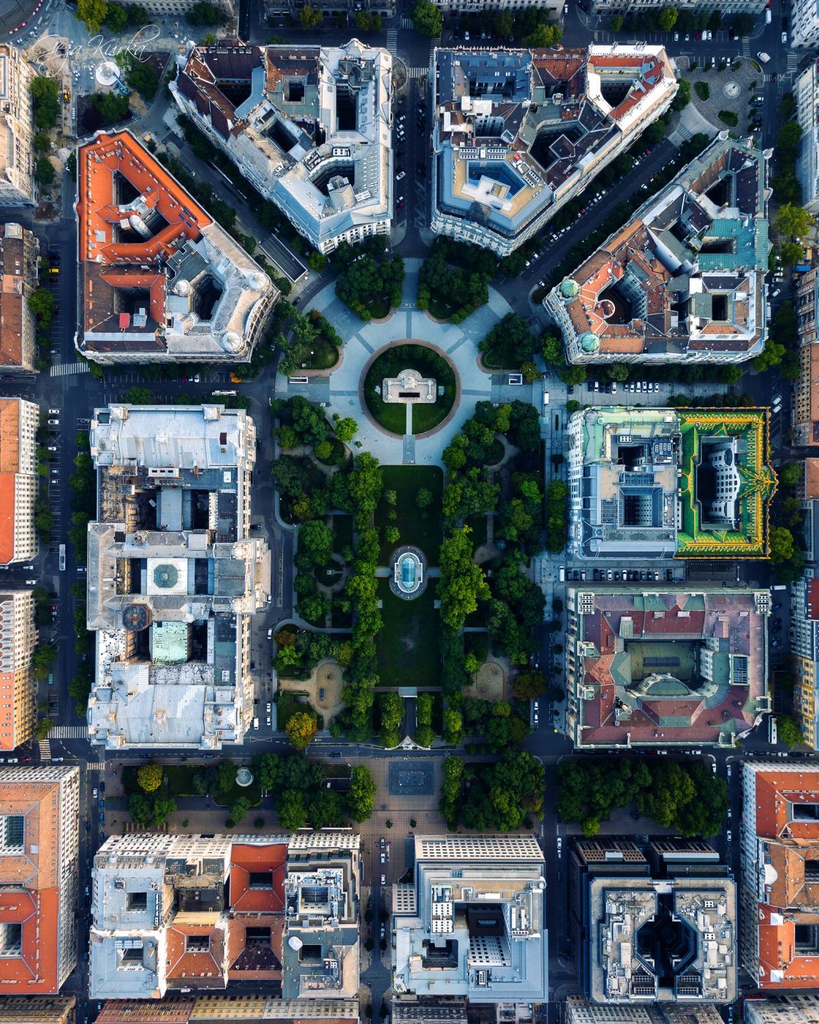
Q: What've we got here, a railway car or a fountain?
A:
fountain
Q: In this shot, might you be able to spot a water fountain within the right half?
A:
Yes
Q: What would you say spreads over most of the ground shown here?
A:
buildings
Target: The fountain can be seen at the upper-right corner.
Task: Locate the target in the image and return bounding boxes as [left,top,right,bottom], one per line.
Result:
[723,81,741,98]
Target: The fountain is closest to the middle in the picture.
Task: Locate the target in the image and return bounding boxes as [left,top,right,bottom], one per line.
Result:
[390,546,428,600]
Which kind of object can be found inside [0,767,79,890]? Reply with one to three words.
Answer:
building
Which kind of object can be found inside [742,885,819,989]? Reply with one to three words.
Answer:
building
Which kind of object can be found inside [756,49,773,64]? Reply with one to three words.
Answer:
vehicle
